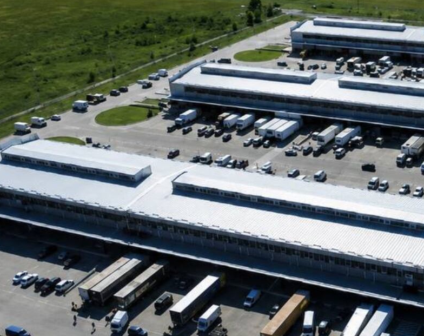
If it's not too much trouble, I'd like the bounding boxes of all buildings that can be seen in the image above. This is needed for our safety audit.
[165,57,424,140]
[0,129,424,320]
[285,15,424,65]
